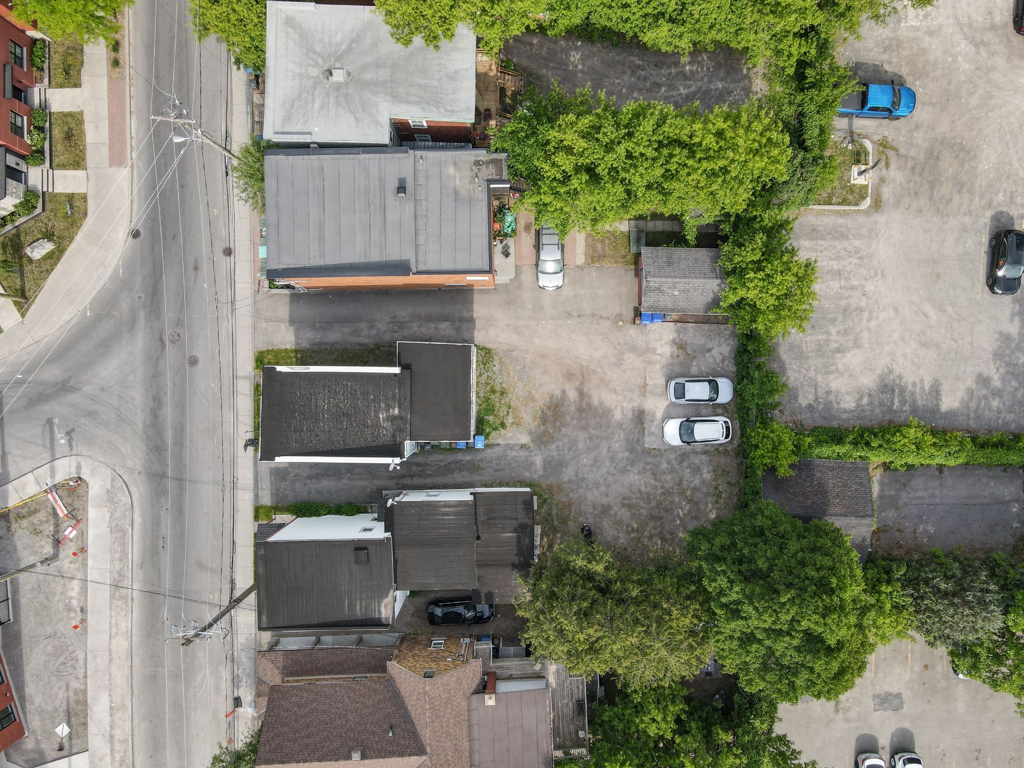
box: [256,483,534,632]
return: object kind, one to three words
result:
house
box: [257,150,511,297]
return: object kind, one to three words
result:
building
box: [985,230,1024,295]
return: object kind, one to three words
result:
car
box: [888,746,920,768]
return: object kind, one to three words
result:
car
